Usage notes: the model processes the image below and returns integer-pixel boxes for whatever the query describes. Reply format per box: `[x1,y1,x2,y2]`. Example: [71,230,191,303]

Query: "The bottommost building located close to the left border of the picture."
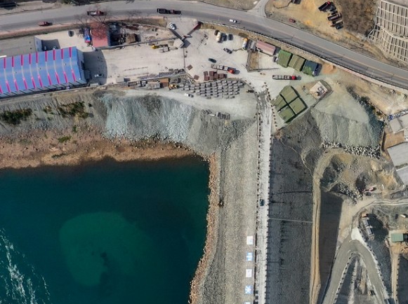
[0,47,88,103]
